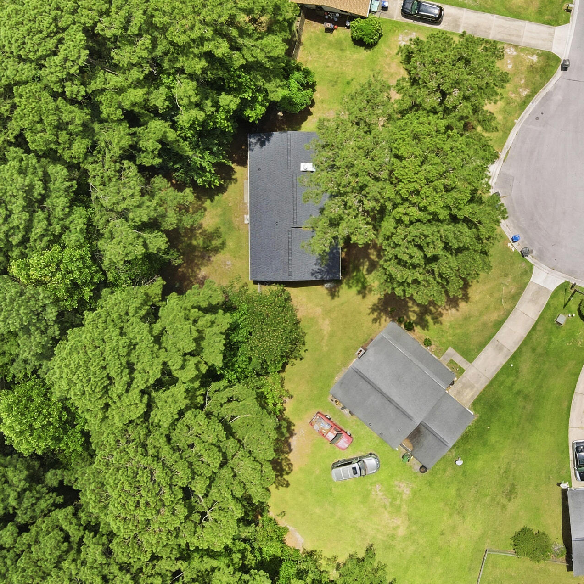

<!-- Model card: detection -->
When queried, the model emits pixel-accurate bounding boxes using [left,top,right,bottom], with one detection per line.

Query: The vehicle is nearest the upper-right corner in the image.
[400,0,445,25]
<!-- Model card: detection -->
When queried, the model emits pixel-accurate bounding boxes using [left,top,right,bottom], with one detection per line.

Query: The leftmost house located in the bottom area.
[330,322,474,470]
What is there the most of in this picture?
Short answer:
trees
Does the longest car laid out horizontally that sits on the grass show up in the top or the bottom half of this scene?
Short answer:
bottom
